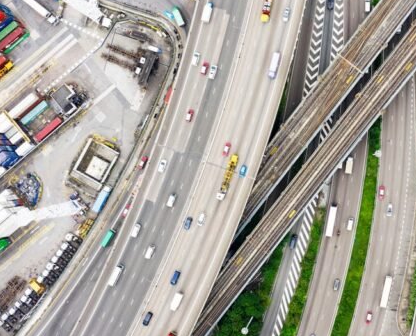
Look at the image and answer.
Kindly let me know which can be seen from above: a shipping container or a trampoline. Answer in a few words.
shipping container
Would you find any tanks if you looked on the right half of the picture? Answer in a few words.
No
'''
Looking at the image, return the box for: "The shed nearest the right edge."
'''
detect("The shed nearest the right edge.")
[133,45,159,82]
